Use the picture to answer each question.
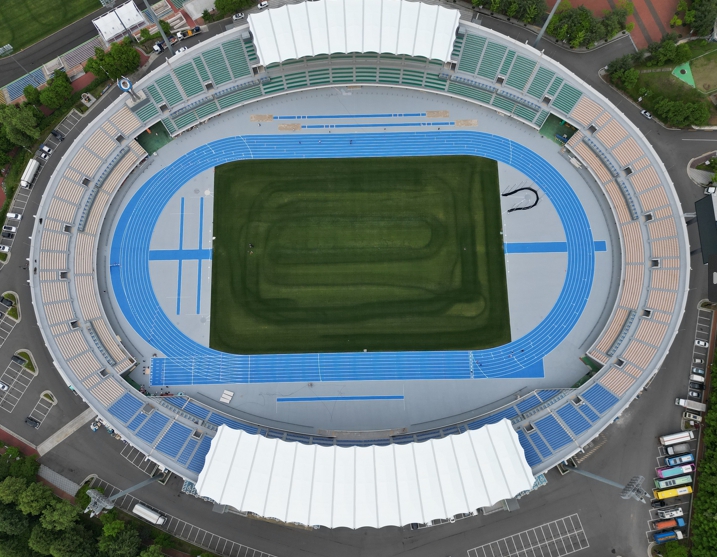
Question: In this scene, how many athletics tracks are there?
1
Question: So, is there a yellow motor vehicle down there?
Yes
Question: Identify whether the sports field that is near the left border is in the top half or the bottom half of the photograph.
top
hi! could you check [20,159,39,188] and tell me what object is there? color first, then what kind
white vehicle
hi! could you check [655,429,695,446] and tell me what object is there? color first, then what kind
white vehicle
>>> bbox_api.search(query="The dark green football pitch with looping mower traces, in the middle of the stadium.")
[209,156,511,354]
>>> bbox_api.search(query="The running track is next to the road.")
[109,110,606,410]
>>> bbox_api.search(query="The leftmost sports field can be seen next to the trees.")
[0,0,156,86]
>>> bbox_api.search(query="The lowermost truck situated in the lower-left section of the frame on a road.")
[132,505,168,526]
